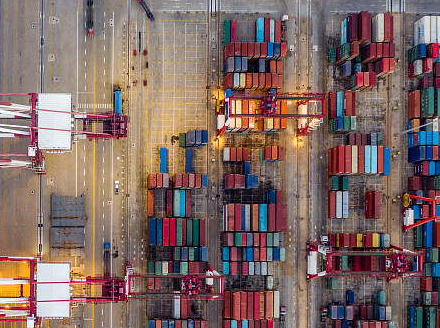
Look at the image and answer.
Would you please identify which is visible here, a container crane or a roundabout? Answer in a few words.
container crane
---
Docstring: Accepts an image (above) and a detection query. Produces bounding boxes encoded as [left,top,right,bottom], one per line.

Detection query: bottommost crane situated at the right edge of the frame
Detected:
[302,237,424,286]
